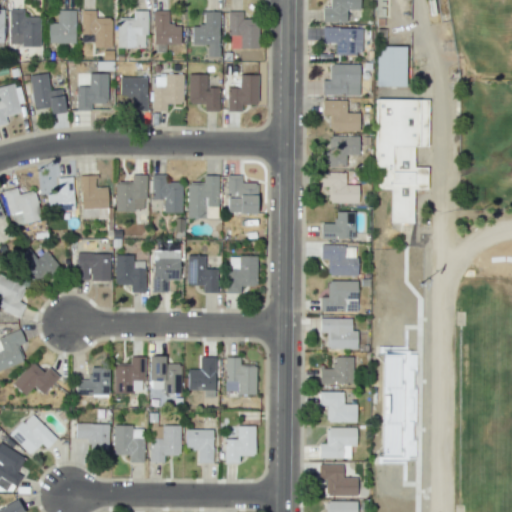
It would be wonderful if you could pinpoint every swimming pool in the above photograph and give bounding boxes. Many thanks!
[68,218,80,230]
[190,224,214,236]
[46,414,64,434]
[357,212,366,234]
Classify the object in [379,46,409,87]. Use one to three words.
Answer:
building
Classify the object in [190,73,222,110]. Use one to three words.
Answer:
house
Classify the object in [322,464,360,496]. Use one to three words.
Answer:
house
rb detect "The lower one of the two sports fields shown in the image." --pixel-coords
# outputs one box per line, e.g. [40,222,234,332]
[456,240,512,512]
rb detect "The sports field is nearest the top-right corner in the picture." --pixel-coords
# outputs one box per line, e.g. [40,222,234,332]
[452,0,512,206]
